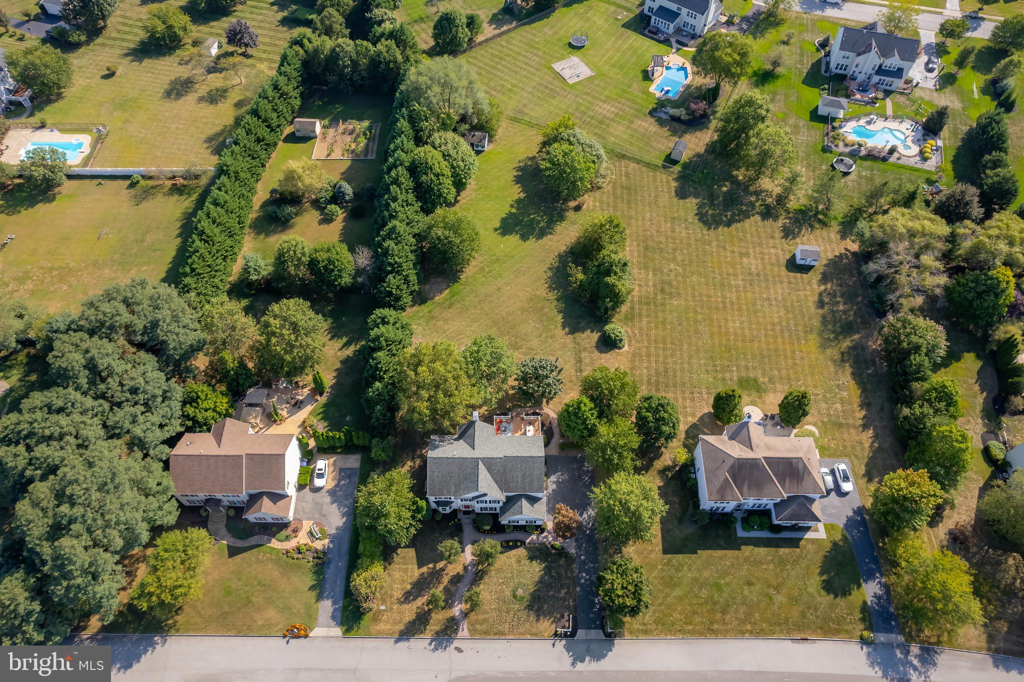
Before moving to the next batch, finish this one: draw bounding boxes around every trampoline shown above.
[571,31,587,49]
[833,158,855,176]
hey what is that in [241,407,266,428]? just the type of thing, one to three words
gazebo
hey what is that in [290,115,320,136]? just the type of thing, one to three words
shed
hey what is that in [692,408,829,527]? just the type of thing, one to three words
house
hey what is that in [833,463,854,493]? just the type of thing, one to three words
car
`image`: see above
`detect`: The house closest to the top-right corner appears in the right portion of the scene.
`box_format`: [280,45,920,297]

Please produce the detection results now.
[829,11,921,89]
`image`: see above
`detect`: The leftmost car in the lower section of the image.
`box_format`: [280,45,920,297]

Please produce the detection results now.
[313,459,329,487]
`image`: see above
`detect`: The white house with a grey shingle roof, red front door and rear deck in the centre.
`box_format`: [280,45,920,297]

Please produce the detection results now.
[426,409,546,524]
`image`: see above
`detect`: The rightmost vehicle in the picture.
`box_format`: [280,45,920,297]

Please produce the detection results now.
[925,55,938,71]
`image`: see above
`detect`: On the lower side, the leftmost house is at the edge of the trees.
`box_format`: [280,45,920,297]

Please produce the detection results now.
[167,415,303,522]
